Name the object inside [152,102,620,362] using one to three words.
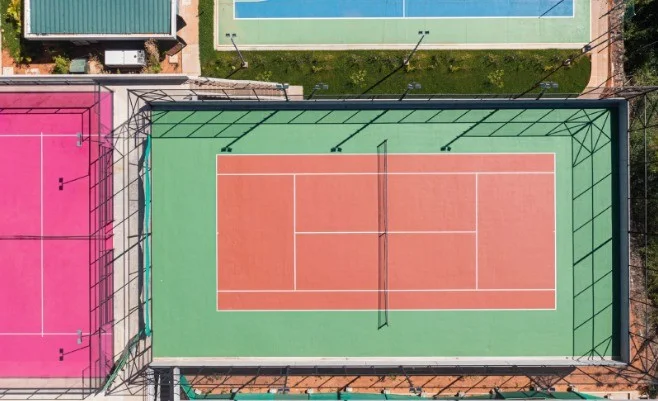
tennis court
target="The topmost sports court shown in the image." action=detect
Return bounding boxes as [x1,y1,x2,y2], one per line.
[214,0,592,50]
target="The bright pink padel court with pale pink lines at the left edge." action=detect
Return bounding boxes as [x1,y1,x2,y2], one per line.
[0,92,113,378]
